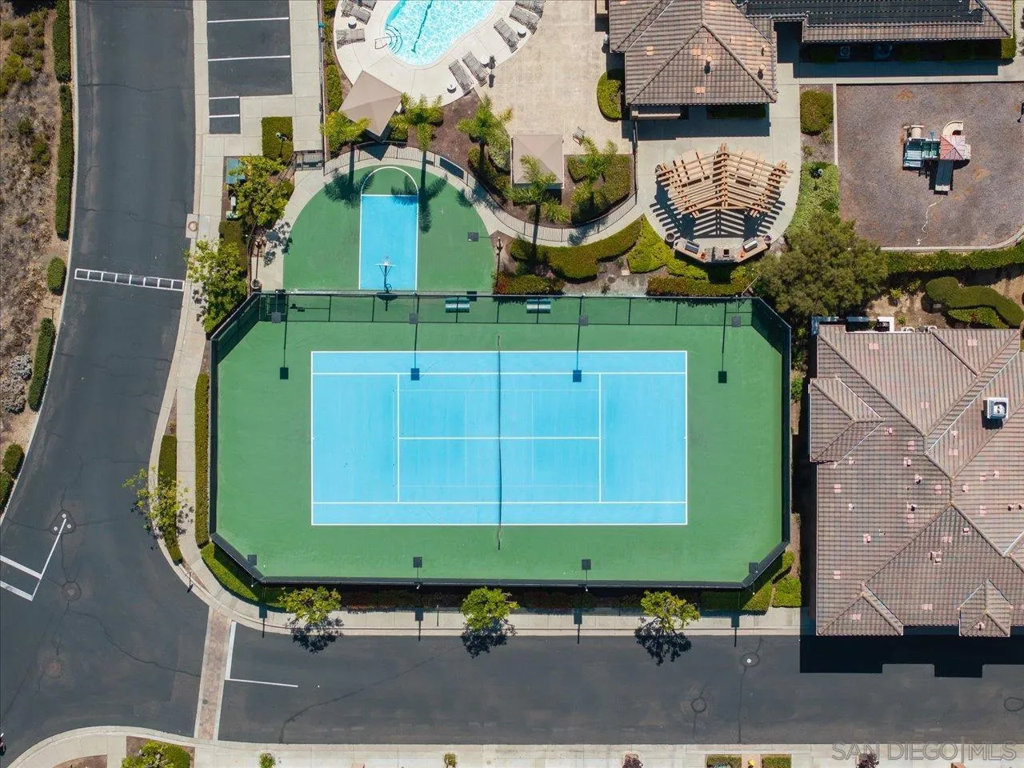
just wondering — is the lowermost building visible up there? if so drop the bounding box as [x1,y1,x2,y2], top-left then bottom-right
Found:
[798,324,1024,638]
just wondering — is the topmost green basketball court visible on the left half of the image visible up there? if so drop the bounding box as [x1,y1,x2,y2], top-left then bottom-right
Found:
[284,165,495,290]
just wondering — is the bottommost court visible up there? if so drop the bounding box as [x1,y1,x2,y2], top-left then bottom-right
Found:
[217,295,782,577]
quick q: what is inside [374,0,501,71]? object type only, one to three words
swimming pool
